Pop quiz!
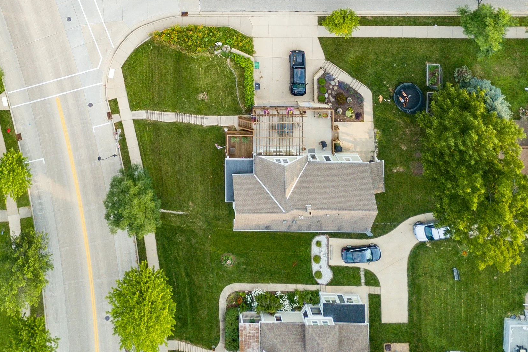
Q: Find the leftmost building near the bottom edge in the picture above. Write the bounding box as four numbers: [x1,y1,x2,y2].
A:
[239,289,369,352]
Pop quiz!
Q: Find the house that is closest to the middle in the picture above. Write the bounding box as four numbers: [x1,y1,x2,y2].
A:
[224,136,385,236]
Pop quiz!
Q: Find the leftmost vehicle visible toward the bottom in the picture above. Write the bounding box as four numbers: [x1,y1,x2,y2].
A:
[341,243,381,265]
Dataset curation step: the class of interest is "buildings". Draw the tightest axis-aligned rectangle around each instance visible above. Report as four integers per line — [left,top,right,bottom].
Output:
[239,289,369,352]
[224,136,385,236]
[506,302,528,352]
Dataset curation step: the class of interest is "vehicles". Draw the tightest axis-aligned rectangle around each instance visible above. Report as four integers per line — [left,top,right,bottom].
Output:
[341,243,381,265]
[288,49,309,96]
[410,220,457,244]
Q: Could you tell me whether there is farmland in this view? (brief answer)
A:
No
